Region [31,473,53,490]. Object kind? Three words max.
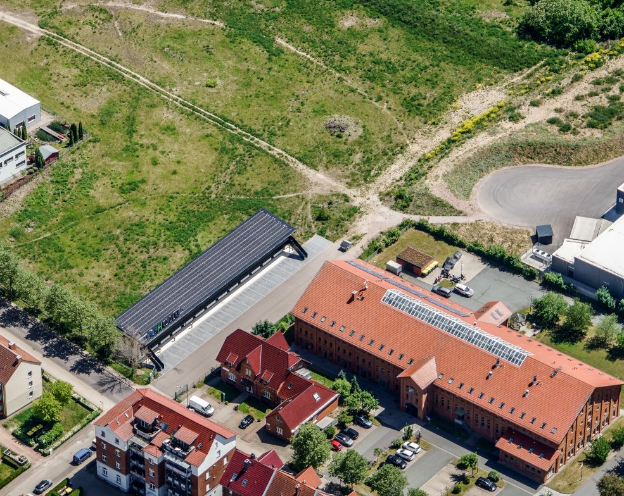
car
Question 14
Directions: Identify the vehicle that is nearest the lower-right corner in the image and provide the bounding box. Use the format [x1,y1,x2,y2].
[473,470,499,487]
